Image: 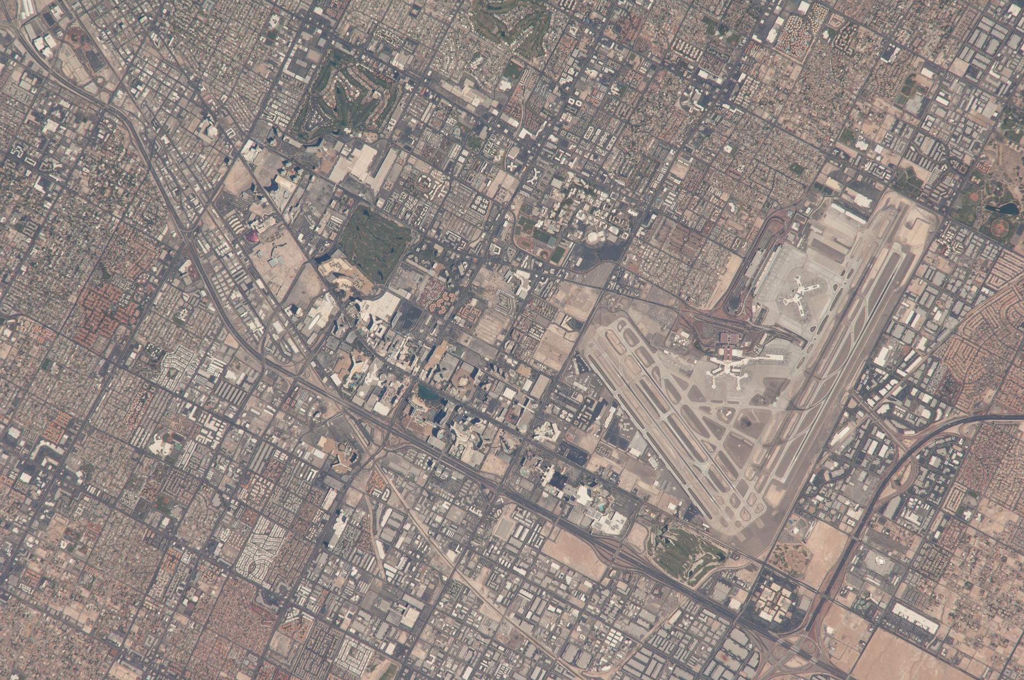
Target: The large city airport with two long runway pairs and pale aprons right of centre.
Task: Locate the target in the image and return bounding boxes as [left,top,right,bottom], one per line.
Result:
[561,189,942,559]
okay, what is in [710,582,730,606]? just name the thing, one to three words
building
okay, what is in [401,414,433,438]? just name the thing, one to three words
building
